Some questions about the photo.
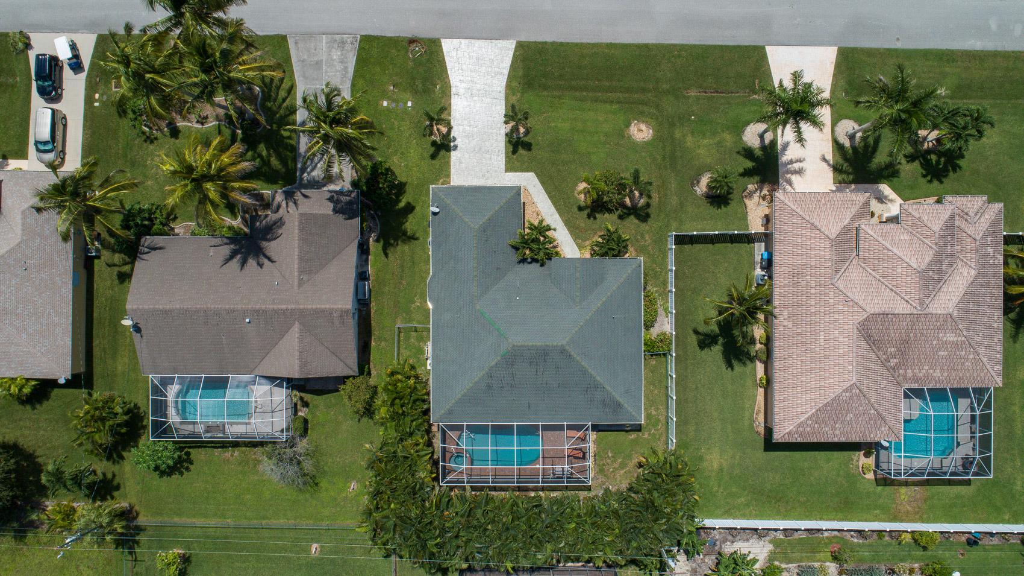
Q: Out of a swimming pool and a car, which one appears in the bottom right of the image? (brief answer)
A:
swimming pool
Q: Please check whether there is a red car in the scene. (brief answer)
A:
No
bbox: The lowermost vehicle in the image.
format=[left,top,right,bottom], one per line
[32,106,67,167]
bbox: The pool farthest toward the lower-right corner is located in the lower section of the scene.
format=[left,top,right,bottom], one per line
[904,390,960,460]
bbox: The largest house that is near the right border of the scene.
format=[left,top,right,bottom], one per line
[766,191,1004,443]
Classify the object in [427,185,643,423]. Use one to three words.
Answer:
house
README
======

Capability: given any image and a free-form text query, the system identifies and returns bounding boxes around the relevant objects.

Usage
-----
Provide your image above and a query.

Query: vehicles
[32,106,67,167]
[34,51,65,101]
[57,38,89,72]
